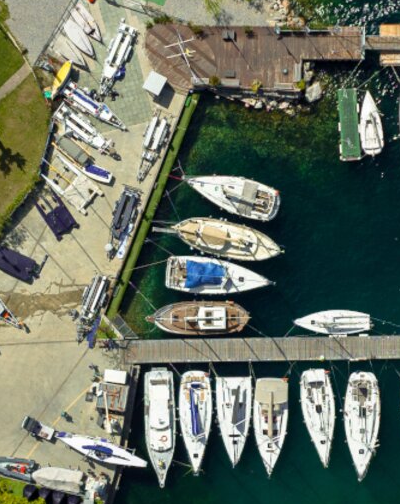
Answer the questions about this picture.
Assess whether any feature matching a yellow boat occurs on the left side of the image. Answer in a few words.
Yes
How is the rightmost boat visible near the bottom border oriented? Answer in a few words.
up and down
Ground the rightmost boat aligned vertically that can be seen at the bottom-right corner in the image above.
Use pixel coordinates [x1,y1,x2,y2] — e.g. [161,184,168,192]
[340,361,381,485]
